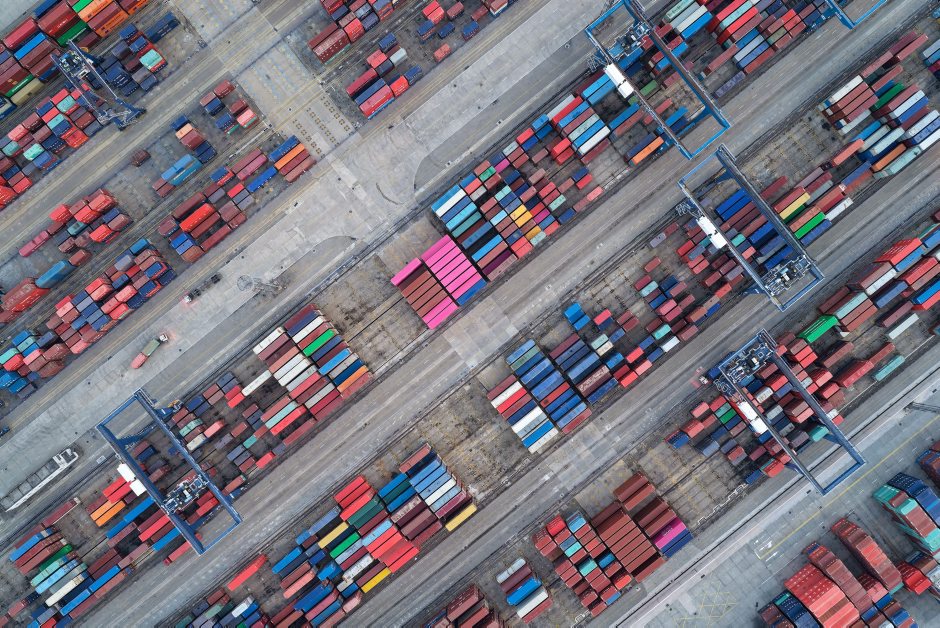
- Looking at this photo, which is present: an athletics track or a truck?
truck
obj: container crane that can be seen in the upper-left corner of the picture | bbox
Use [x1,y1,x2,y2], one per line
[44,33,148,129]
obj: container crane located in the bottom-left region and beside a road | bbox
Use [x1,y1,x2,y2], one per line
[95,386,258,560]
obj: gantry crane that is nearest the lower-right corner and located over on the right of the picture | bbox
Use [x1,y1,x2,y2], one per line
[701,323,871,499]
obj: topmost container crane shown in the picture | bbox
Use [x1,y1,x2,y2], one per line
[794,0,890,46]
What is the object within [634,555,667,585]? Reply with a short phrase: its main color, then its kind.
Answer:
red shipping container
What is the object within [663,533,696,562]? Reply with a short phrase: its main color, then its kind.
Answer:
blue shipping container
